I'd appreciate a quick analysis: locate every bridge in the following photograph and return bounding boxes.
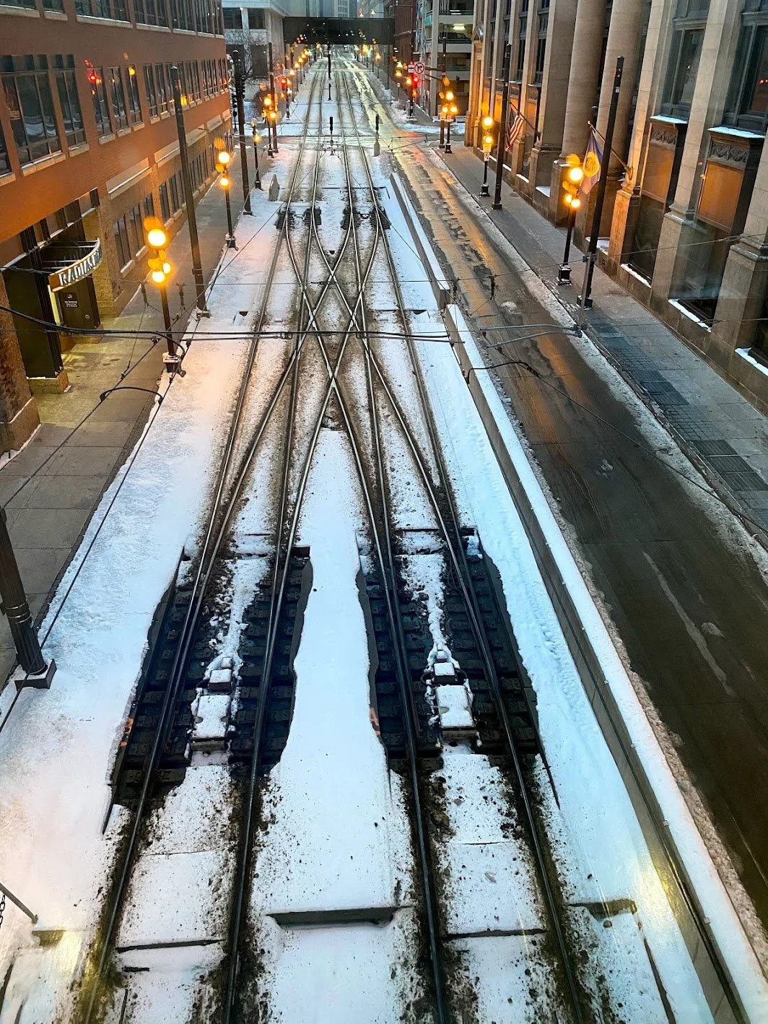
[282,17,398,45]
